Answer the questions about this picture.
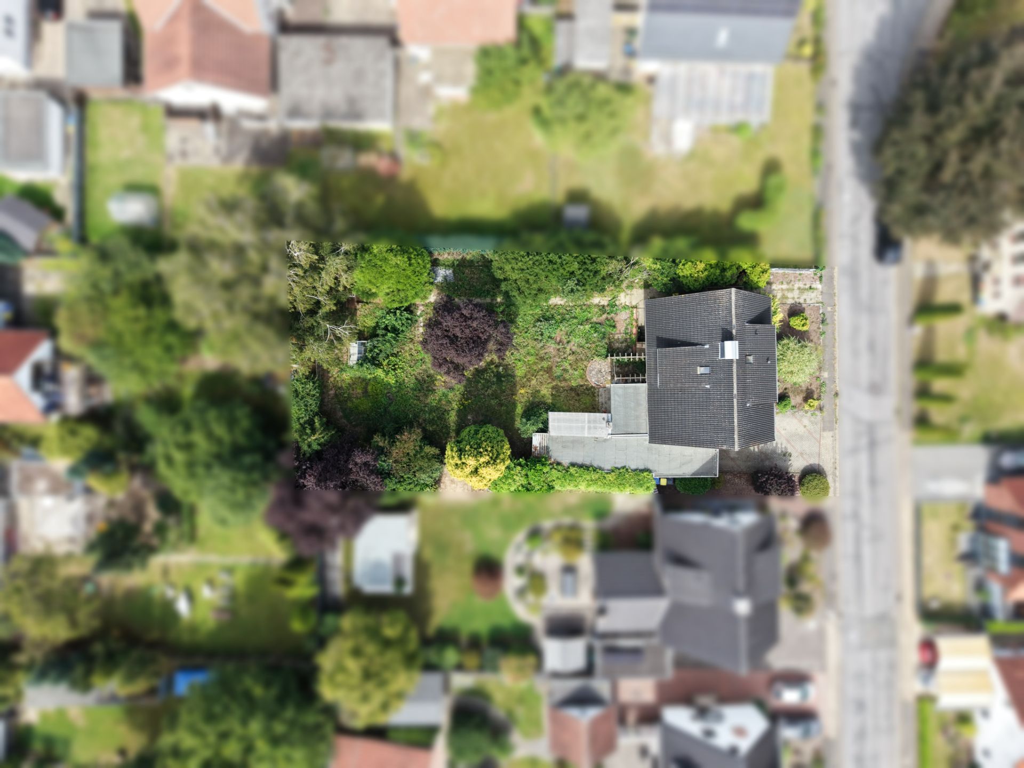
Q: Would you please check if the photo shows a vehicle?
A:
Yes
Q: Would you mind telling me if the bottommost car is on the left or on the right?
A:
right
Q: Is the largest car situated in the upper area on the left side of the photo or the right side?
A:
right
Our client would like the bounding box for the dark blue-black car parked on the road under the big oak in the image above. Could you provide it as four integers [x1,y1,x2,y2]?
[873,219,900,271]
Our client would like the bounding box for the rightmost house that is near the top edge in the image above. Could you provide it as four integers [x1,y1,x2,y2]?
[635,0,791,79]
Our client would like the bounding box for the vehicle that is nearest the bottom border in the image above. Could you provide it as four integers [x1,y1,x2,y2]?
[770,712,822,739]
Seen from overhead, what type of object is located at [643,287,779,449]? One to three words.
house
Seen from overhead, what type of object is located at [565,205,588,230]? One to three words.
shed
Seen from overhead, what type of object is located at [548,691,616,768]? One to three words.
building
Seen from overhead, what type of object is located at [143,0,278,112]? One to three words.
house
